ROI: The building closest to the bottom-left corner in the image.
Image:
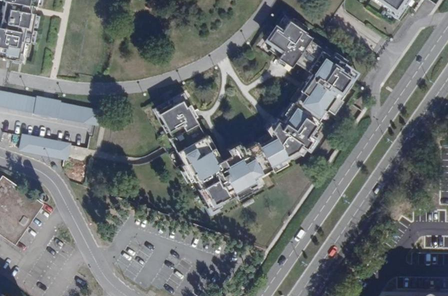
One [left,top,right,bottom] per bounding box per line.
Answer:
[0,176,43,244]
